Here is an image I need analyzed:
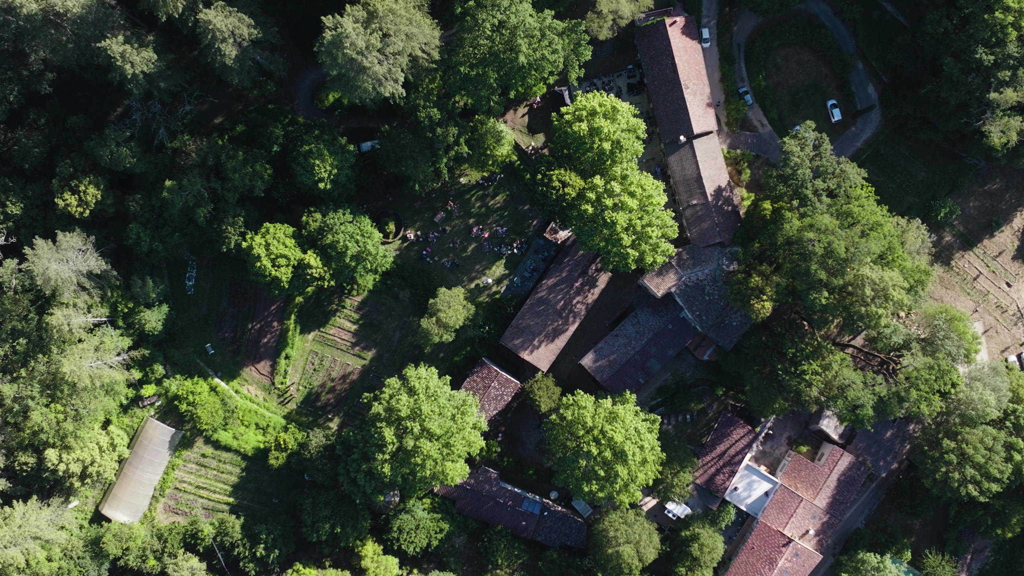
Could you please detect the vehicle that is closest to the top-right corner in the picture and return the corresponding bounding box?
[828,98,843,123]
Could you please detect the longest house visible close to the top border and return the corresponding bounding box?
[632,15,719,147]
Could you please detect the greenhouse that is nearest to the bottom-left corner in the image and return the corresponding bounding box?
[96,416,182,524]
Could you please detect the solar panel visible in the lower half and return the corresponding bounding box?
[521,496,543,515]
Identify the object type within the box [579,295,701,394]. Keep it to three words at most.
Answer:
barn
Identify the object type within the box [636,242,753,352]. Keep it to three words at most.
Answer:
house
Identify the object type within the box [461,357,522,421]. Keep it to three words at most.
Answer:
house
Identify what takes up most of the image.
trees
